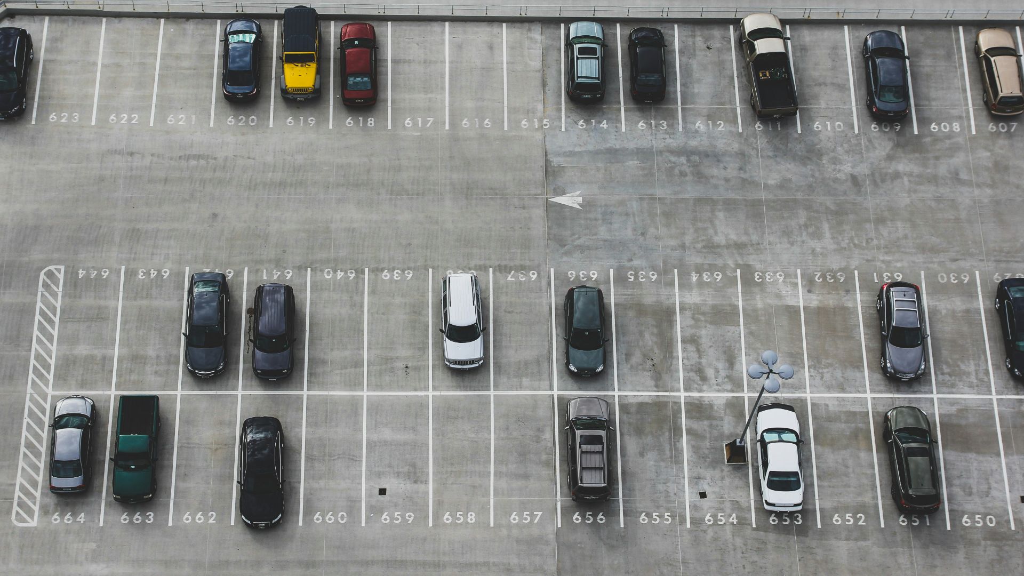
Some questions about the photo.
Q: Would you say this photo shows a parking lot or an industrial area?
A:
parking lot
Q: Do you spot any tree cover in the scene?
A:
No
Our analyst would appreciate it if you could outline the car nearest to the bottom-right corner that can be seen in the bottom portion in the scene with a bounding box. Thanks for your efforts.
[884,406,943,511]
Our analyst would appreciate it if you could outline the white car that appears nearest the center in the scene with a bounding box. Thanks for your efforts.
[437,273,489,370]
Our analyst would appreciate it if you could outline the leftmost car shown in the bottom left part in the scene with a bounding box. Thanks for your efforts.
[46,396,97,492]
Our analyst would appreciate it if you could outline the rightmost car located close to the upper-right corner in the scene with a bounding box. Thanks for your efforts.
[976,29,1024,114]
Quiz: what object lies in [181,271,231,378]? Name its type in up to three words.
car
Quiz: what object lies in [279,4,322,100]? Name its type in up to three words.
car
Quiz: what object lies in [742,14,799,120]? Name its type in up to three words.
truck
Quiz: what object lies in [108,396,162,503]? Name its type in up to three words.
truck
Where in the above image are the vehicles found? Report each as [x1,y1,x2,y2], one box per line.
[0,29,35,119]
[247,282,299,381]
[335,24,379,104]
[46,396,97,492]
[997,280,1024,381]
[976,29,1024,114]
[235,415,288,530]
[437,273,489,370]
[181,271,231,378]
[626,28,670,100]
[878,278,931,381]
[755,404,805,511]
[279,4,322,100]
[742,14,799,120]
[561,283,611,378]
[108,396,162,503]
[563,22,611,101]
[863,31,912,116]
[884,406,943,511]
[218,20,264,100]
[564,399,617,500]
